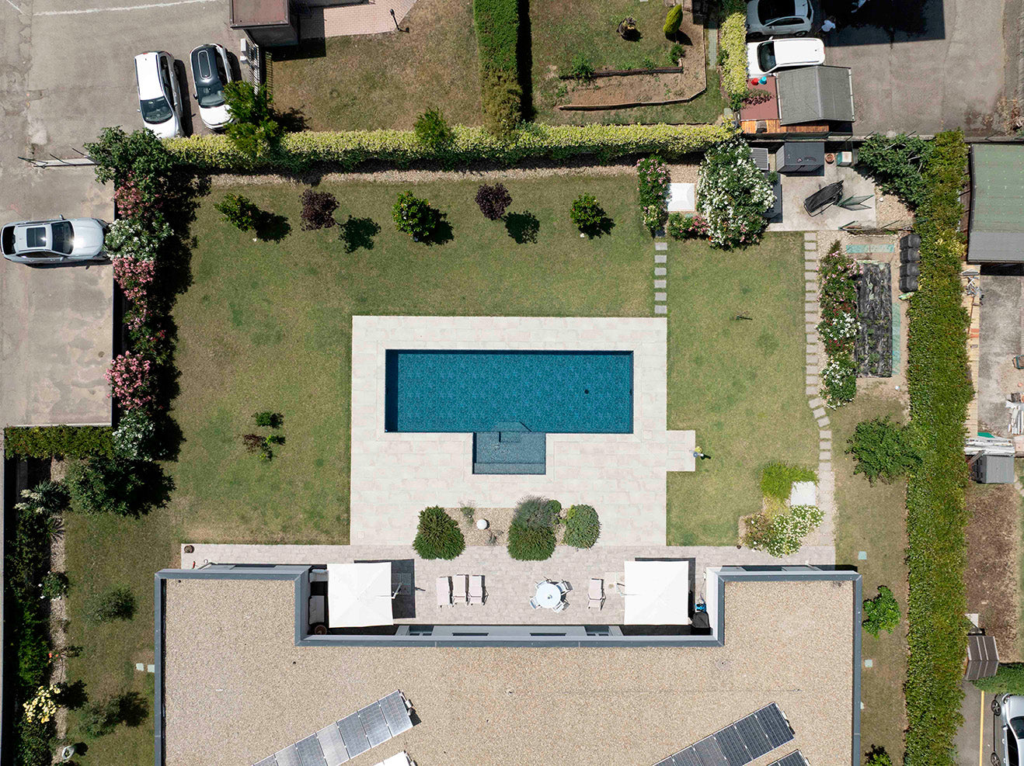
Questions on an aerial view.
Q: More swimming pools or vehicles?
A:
vehicles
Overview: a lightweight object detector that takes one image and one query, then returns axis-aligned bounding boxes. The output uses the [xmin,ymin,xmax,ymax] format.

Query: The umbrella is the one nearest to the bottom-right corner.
[604,560,688,625]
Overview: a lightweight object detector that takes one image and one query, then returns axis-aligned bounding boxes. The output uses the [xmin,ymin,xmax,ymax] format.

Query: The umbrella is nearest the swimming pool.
[327,561,412,627]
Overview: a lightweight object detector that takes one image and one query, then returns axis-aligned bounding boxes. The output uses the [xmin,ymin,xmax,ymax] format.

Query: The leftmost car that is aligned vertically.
[135,50,193,148]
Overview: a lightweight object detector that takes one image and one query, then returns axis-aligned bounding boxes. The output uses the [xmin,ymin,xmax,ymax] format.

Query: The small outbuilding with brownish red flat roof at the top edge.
[231,0,299,45]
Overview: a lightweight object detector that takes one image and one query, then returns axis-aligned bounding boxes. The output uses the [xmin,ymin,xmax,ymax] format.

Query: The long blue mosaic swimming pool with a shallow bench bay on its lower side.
[358,341,652,539]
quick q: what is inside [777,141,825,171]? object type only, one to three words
shed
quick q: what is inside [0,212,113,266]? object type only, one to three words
car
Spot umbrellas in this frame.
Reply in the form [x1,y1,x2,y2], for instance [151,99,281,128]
[327,561,412,627]
[604,560,688,625]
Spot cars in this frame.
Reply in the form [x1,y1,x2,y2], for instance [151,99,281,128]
[994,695,1024,766]
[743,30,830,78]
[185,42,239,134]
[135,50,193,148]
[739,0,823,38]
[0,212,113,266]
